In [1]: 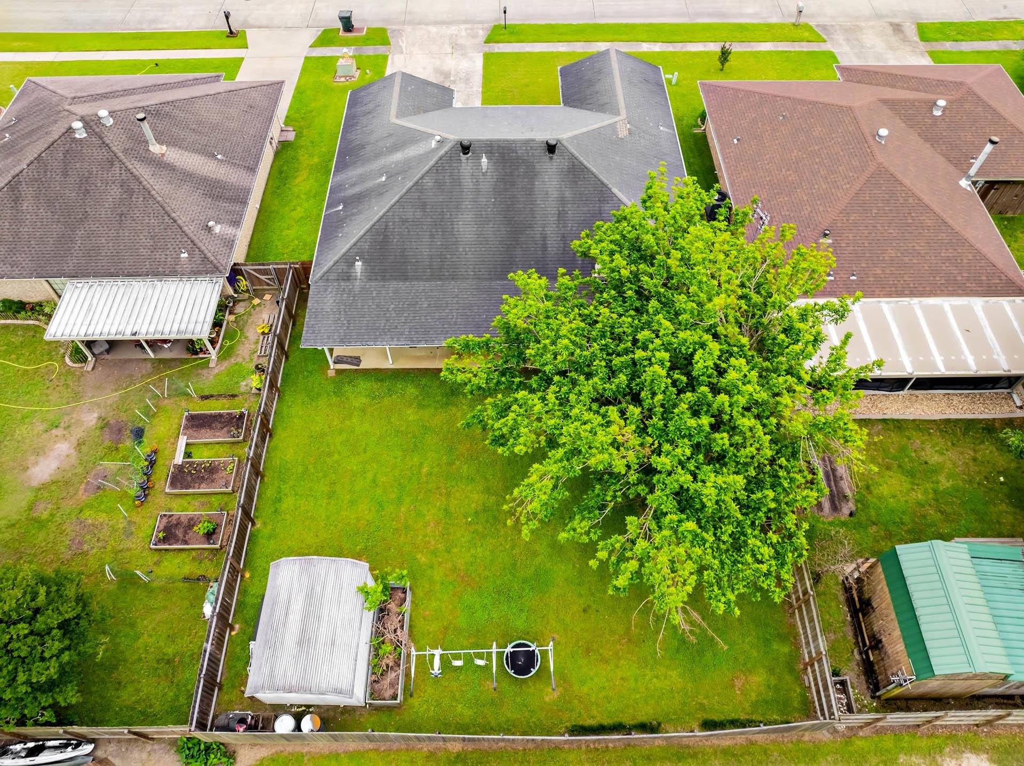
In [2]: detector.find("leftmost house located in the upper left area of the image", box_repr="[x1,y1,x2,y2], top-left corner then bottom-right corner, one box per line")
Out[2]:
[0,73,290,317]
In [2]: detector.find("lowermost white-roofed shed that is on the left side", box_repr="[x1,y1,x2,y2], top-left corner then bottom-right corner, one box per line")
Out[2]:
[244,556,374,707]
